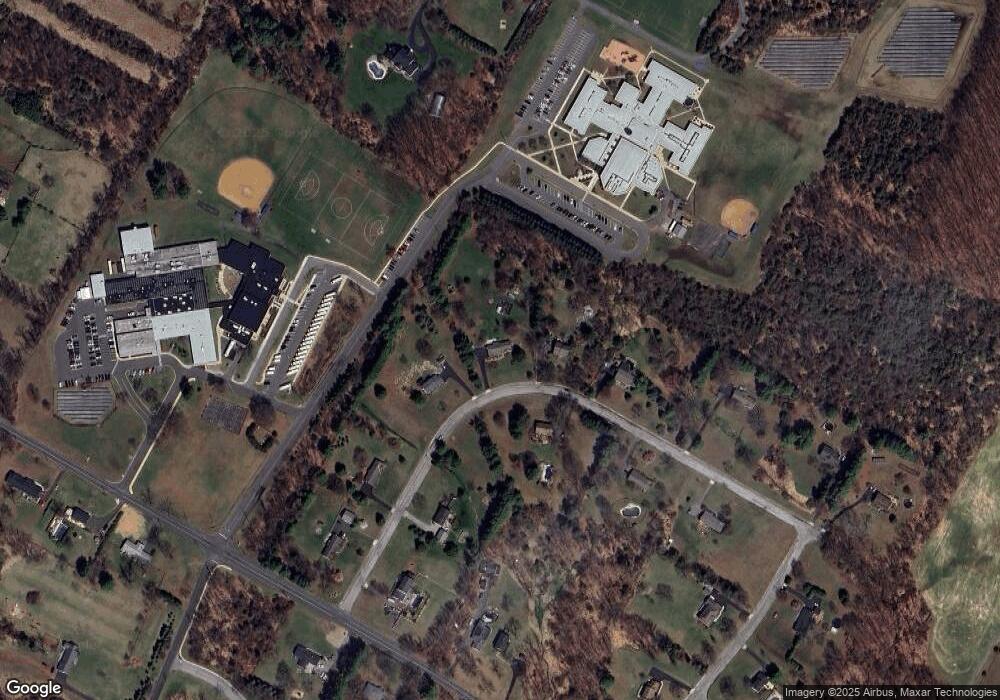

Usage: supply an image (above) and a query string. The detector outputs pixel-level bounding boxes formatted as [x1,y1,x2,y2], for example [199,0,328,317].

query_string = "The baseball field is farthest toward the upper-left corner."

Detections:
[217,158,275,224]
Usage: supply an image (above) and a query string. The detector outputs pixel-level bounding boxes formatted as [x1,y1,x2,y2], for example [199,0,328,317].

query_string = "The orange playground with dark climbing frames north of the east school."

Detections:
[600,40,648,74]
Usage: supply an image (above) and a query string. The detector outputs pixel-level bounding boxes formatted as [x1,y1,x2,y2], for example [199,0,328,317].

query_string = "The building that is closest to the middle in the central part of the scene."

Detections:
[481,342,514,359]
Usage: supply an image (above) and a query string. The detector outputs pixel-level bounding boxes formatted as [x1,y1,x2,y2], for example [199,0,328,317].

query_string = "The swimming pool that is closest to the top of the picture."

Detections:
[369,61,385,79]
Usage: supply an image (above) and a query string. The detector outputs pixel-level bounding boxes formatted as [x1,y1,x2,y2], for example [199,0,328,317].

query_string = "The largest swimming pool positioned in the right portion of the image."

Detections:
[621,506,641,518]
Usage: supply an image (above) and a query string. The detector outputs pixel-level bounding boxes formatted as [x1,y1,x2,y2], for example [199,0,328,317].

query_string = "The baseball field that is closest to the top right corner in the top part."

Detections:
[721,197,760,239]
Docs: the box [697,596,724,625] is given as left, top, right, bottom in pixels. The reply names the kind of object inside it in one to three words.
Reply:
house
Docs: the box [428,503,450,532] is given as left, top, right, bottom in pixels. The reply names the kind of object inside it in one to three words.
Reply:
house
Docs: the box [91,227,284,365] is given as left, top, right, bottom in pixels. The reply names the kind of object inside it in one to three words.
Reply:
building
